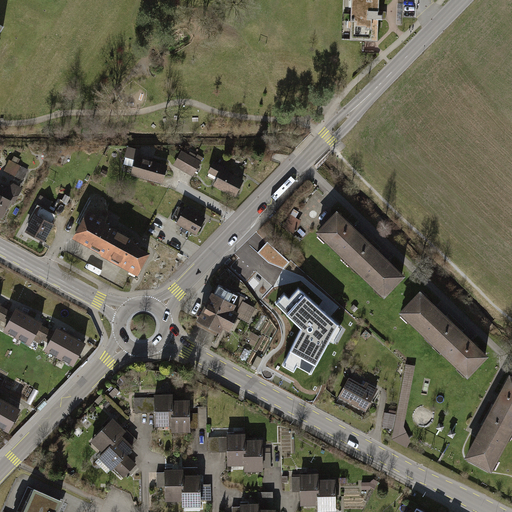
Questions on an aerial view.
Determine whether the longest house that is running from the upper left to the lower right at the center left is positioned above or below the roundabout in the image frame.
above it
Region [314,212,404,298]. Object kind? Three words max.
building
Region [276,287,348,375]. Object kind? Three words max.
building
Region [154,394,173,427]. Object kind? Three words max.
house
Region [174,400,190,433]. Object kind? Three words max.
house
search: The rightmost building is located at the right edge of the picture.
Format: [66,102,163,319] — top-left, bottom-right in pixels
[465,372,512,472]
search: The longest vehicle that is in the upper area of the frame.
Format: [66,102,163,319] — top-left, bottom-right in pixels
[272,178,296,200]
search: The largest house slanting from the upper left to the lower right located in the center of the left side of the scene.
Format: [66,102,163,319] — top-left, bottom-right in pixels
[72,214,152,281]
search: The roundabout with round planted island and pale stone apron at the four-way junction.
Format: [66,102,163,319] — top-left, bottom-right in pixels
[129,310,158,340]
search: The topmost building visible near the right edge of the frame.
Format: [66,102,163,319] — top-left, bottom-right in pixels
[398,294,488,378]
